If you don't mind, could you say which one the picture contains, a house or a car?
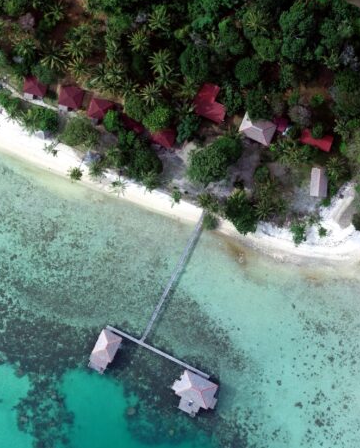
house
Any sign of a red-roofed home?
Yes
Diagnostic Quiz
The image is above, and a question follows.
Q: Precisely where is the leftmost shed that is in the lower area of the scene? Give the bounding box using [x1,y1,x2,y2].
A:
[88,329,123,376]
